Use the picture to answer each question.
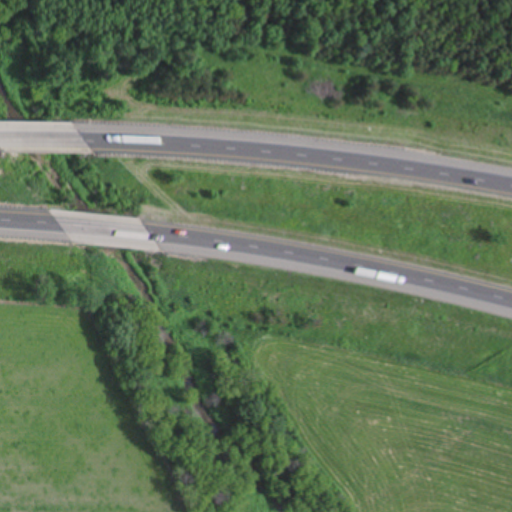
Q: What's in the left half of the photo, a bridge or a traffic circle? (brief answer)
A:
bridge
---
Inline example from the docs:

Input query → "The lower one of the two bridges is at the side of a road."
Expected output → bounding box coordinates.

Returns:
[50,209,160,252]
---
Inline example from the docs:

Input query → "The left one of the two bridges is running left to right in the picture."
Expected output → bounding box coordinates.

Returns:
[0,120,94,156]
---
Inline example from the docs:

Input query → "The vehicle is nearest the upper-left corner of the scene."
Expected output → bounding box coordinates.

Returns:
[106,132,162,144]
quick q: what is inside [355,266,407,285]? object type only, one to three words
vehicle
